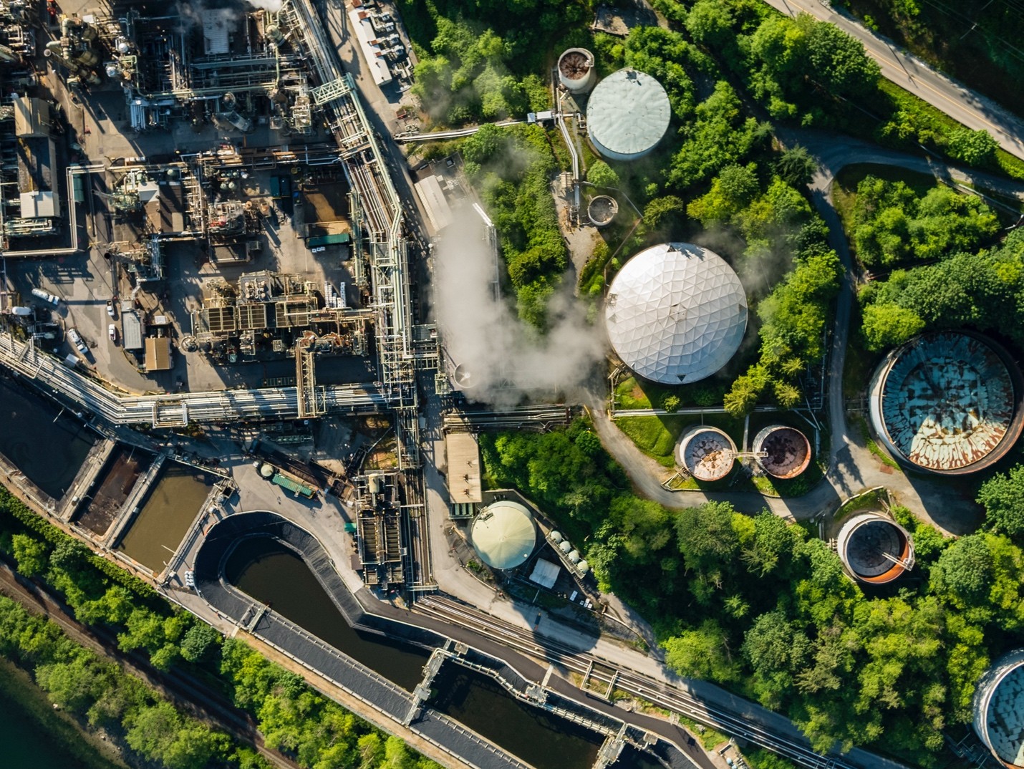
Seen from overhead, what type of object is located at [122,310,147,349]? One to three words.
building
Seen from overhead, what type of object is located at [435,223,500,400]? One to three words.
cooling tower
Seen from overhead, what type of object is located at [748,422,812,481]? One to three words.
storage tank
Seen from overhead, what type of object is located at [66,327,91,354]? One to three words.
truck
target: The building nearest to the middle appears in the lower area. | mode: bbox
[446,434,482,503]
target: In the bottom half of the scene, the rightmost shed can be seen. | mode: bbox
[529,557,560,589]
